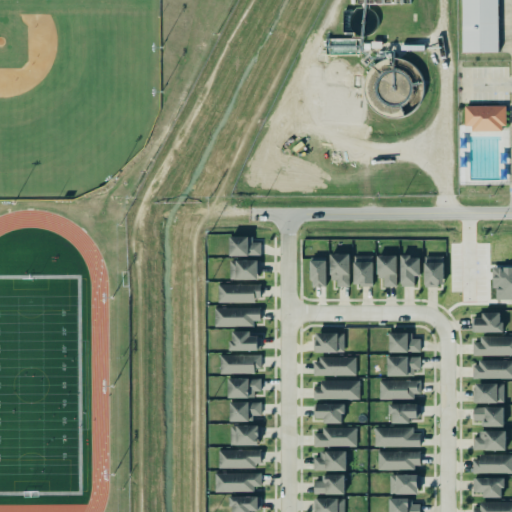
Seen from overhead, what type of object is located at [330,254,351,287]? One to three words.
house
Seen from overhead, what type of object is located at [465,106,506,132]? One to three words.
building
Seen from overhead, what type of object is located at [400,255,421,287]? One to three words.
house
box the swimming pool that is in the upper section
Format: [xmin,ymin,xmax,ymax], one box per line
[460,126,510,185]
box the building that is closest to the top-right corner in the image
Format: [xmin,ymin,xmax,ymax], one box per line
[462,0,500,52]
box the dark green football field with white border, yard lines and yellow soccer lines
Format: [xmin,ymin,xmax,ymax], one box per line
[0,227,92,504]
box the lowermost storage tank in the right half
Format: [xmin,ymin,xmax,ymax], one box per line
[366,58,425,117]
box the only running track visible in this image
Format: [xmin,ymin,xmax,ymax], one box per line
[0,210,110,512]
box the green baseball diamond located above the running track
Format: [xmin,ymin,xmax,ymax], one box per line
[0,0,160,198]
